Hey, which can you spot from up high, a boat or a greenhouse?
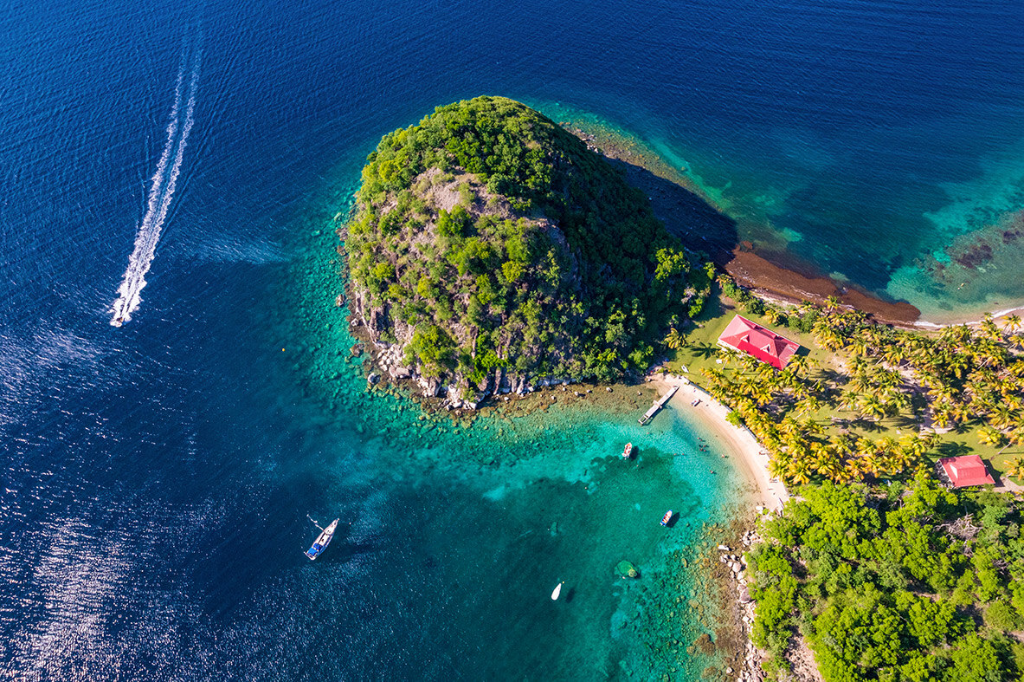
boat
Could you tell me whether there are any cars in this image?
No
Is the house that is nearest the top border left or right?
right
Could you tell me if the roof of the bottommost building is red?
Yes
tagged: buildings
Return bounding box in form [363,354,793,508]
[716,315,799,377]
[934,454,996,491]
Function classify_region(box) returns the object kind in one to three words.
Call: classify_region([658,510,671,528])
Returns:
boat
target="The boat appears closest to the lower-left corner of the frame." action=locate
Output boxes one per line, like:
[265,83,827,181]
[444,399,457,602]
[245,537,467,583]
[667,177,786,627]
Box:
[299,506,340,562]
